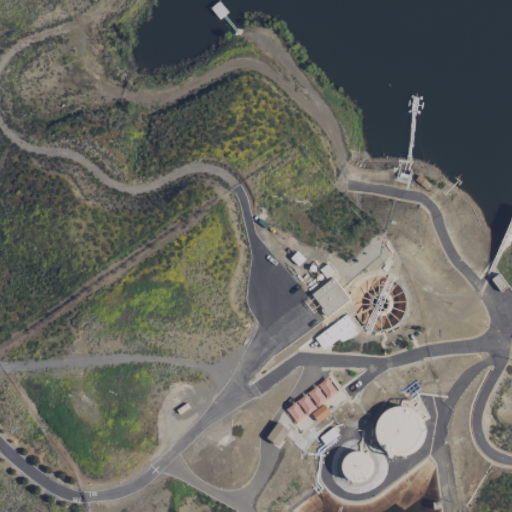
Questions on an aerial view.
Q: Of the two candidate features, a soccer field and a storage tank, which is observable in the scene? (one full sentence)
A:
Visible in the photo is a storage tank.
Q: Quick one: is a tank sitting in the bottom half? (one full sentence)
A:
Yes, a tank is visible in the bottom half.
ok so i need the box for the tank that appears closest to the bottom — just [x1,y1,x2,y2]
[342,451,375,484]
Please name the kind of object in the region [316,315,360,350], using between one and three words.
building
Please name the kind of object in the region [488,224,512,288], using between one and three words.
dam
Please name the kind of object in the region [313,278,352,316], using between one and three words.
building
